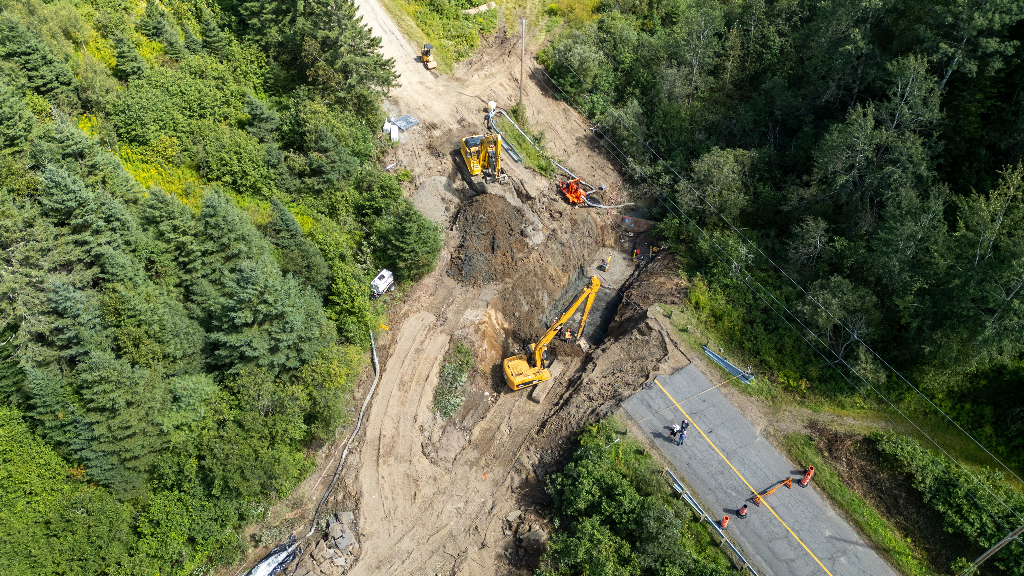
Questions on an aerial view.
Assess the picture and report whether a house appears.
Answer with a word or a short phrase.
No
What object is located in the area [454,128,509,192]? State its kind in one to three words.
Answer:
work vehicle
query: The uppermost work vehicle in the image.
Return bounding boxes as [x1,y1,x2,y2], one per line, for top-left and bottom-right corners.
[413,39,440,73]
